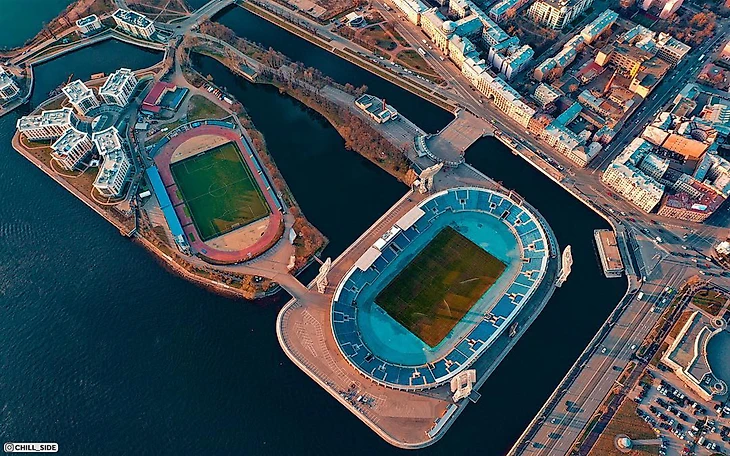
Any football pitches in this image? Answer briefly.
Yes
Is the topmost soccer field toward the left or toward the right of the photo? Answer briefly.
left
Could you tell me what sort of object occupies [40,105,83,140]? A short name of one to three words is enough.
building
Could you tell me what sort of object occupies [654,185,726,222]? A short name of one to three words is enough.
house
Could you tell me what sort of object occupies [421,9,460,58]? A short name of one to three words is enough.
building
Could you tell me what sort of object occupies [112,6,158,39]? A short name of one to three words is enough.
house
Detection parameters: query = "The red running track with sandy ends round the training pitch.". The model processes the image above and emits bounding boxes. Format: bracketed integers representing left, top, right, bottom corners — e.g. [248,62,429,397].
[162,126,281,260]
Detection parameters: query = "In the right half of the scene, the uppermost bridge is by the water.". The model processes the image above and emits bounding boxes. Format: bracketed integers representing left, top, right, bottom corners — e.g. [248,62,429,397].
[436,114,494,150]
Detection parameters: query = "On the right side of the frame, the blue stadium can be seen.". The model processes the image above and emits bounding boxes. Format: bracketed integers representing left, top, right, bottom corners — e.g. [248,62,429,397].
[331,187,548,393]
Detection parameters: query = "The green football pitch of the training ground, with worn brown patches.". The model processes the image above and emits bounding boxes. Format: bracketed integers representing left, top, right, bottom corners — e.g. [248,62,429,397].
[171,141,271,240]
